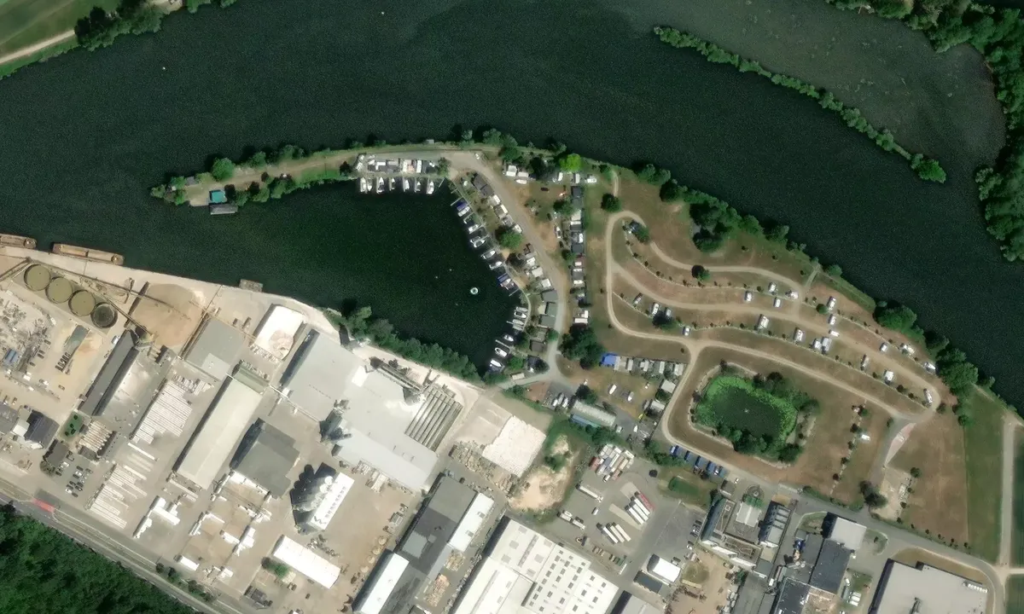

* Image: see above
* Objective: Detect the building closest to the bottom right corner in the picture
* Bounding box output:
[876,561,988,614]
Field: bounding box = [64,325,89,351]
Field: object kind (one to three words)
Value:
shed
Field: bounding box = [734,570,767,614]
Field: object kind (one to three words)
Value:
building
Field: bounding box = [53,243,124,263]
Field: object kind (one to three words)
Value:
ship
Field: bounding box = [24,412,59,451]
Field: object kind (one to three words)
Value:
house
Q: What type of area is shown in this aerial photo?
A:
port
